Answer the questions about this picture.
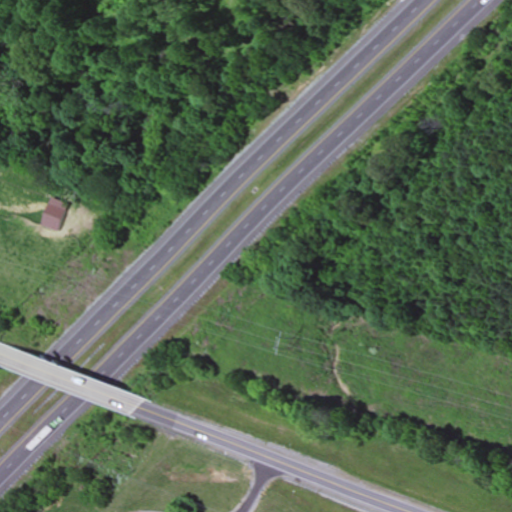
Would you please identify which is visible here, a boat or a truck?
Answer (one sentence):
There is a truck in the scene.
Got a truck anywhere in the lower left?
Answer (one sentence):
Yes, the scene does show a truck in the lower left.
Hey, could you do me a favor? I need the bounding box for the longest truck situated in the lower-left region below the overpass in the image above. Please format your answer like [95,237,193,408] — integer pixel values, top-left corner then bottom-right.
[26,420,58,452]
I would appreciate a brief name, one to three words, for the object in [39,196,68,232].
barn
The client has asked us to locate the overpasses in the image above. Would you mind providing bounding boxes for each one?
[0,342,156,418]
